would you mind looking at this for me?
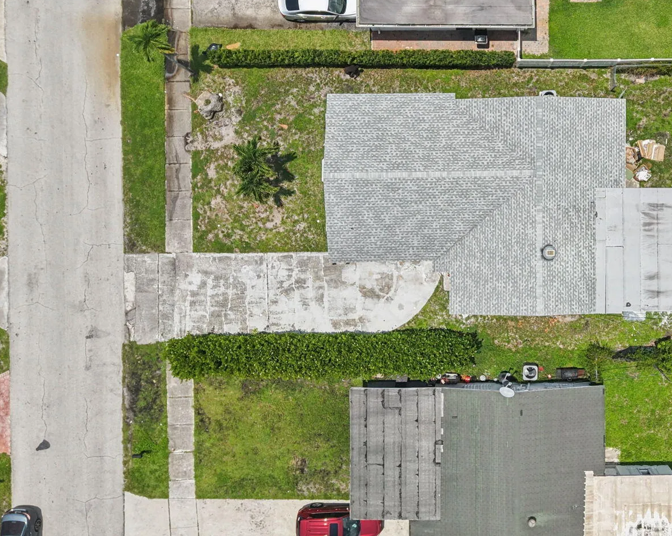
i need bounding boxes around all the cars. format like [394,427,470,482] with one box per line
[279,0,354,27]
[0,510,43,536]
[297,504,383,536]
